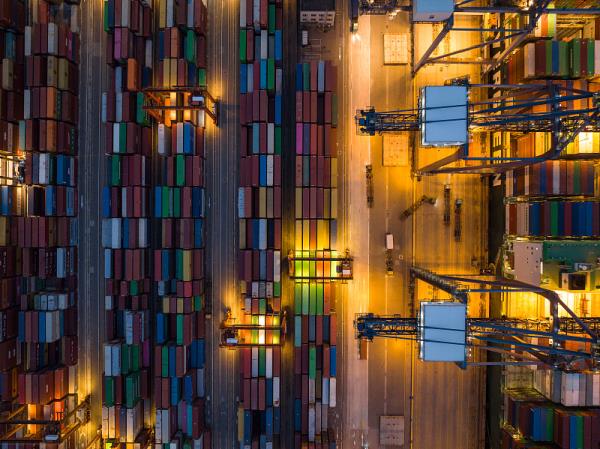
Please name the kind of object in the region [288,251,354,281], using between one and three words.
container crane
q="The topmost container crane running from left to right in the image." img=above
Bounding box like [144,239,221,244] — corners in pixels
[350,0,600,83]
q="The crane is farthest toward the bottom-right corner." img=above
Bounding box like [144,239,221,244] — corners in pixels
[356,267,600,370]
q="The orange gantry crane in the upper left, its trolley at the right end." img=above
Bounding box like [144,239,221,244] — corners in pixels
[142,87,218,127]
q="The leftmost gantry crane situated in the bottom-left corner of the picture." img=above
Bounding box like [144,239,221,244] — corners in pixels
[0,393,94,444]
